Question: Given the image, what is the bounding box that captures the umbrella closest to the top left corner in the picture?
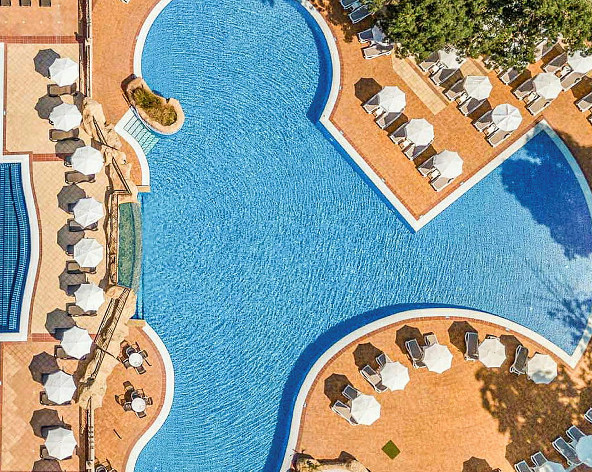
[50,56,81,88]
